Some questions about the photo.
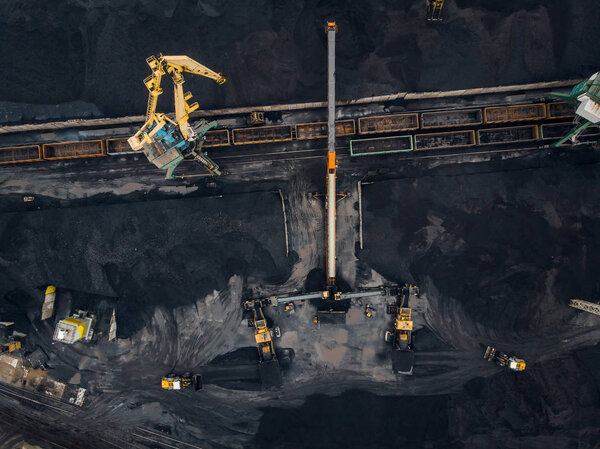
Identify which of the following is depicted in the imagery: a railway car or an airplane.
railway car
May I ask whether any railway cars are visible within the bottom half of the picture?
No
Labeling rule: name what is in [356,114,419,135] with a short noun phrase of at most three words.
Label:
rail car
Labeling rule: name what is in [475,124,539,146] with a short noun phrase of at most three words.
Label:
rail car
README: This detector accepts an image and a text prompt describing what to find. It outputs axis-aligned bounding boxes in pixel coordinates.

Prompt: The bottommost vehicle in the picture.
[161,375,204,393]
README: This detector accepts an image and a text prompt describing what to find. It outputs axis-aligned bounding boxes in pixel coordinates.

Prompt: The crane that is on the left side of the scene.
[127,52,226,179]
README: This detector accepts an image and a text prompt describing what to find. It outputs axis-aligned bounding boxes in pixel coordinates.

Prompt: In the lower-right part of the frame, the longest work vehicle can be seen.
[485,348,529,375]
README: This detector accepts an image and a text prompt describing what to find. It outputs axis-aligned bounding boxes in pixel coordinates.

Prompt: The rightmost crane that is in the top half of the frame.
[545,71,600,146]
